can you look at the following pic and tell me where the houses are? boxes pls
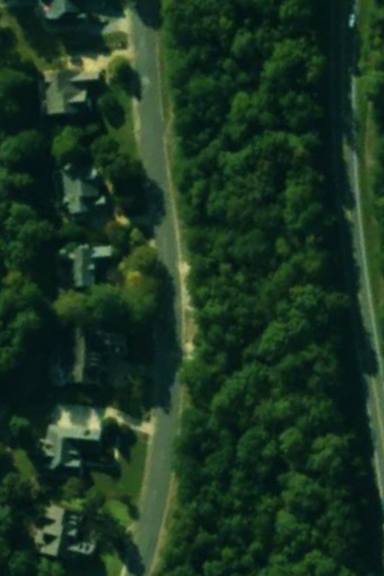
[37,0,88,24]
[39,425,101,471]
[73,329,100,385]
[41,69,99,114]
[60,171,106,214]
[67,245,112,287]
[32,507,96,569]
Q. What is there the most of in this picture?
trees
